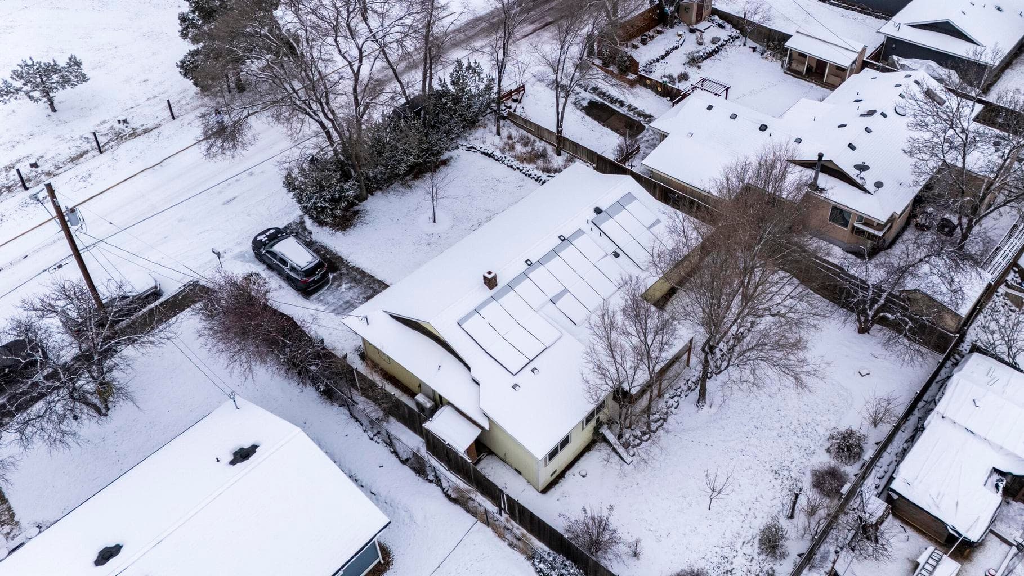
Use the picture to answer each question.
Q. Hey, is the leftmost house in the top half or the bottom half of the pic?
bottom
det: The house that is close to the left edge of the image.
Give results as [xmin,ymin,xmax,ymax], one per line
[0,391,387,576]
